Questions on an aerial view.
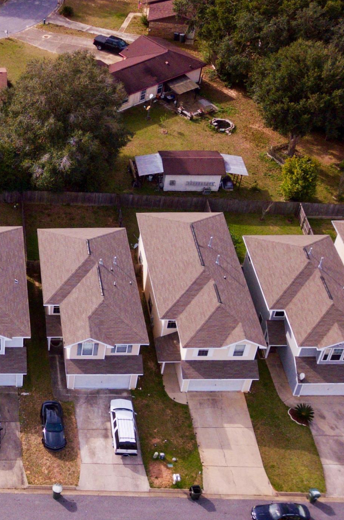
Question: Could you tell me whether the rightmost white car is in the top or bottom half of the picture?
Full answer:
Seen from above, the rightmost white car lies in the bottom half of the view.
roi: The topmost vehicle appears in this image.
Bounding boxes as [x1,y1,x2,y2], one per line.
[85,34,128,51]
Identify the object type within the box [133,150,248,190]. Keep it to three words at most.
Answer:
barn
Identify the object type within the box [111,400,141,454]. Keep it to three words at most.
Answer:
car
